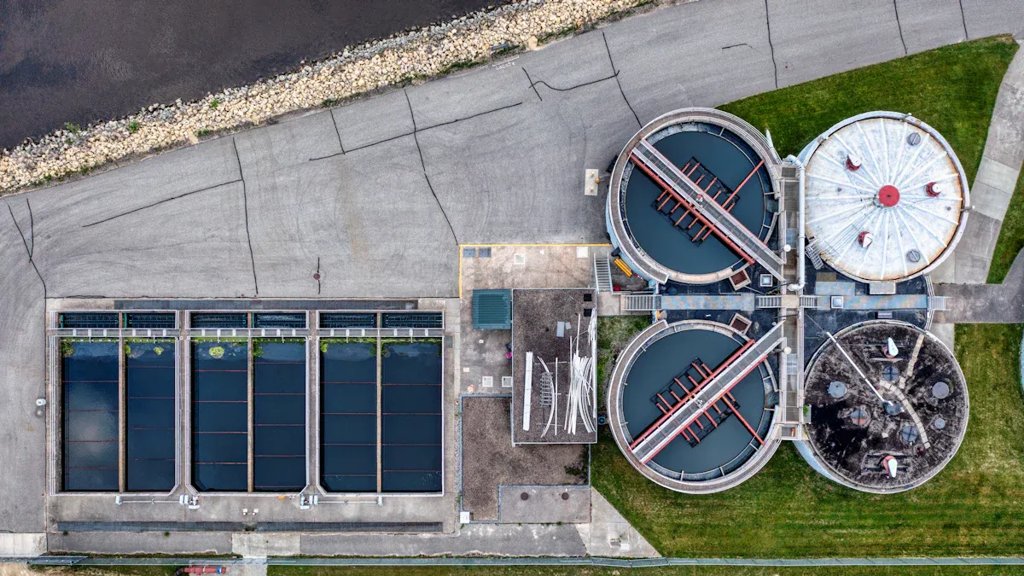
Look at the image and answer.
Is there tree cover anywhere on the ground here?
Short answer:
No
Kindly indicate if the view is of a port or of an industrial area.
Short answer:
industrial area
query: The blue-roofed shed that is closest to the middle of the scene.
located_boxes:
[473,289,511,330]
